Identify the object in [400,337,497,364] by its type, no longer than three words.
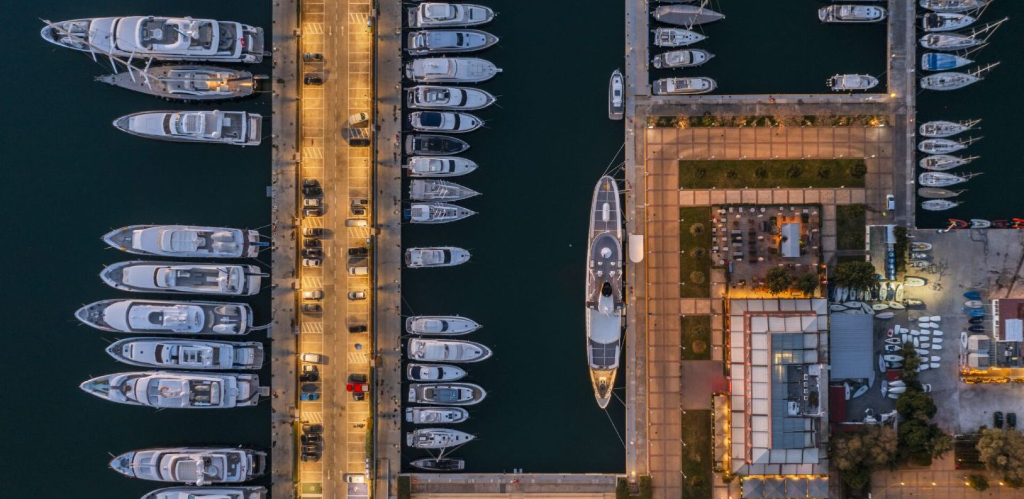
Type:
boat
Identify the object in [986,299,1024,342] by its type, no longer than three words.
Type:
building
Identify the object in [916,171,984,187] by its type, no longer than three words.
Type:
boat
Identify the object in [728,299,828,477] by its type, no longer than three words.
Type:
building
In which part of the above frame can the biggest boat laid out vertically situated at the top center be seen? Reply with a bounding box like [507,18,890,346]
[607,70,625,120]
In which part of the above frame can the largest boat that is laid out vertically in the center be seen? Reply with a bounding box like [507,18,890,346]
[586,144,632,450]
